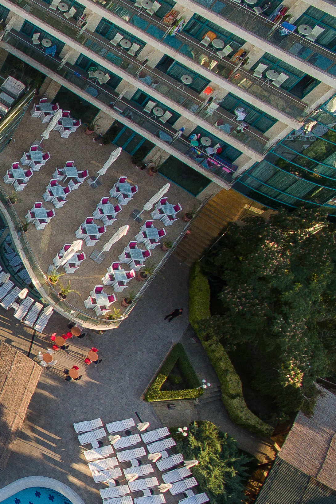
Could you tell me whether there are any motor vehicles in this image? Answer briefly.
No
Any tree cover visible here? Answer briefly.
Yes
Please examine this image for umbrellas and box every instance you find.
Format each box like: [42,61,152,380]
[148,483,170,496]
[129,187,167,224]
[88,229,125,266]
[137,454,156,465]
[85,150,120,190]
[124,423,146,436]
[97,435,118,447]
[115,474,136,486]
[42,242,76,276]
[29,109,60,150]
